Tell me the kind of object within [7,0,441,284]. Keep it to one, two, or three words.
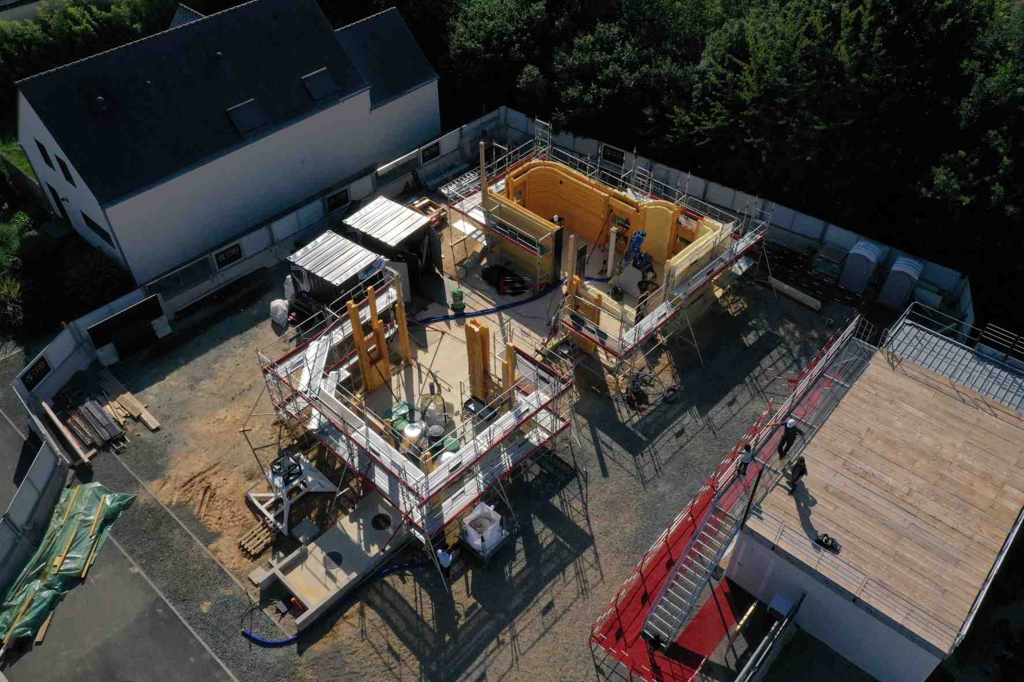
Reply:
house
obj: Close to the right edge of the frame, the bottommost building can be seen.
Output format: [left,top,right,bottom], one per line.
[731,300,1024,682]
